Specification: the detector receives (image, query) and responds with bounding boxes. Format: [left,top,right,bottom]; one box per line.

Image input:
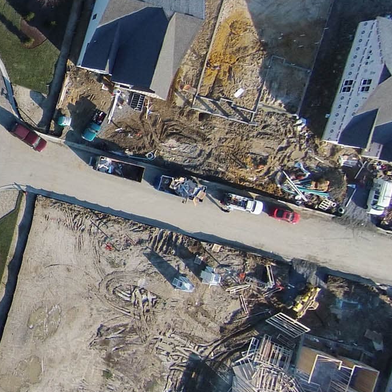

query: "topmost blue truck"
[82,108,109,144]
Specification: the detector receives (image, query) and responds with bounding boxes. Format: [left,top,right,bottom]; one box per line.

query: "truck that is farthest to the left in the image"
[11,122,49,153]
